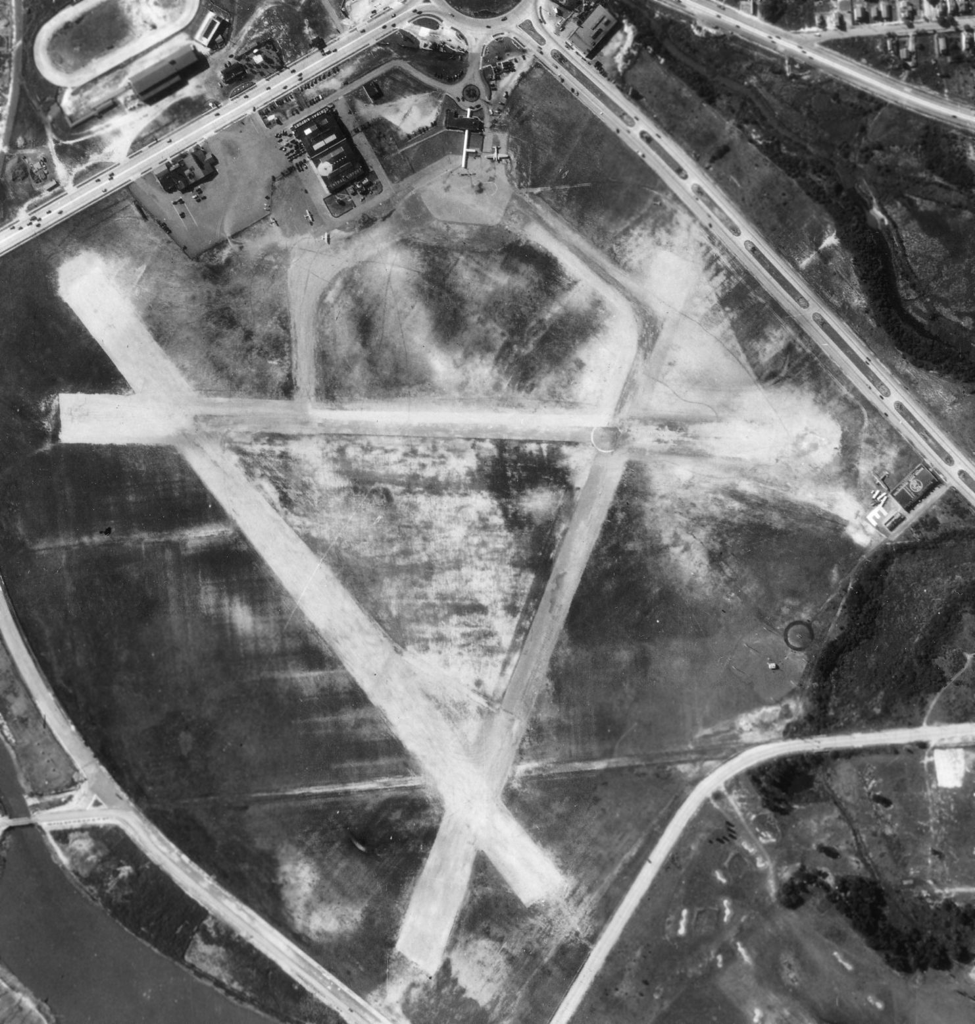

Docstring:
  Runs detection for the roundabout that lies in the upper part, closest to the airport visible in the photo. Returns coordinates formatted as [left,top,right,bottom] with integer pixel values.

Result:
[455,77,487,109]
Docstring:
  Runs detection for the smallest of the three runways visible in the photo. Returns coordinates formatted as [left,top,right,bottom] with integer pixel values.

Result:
[398,455,627,973]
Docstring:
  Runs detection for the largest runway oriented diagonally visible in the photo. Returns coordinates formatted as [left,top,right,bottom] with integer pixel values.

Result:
[58,254,561,905]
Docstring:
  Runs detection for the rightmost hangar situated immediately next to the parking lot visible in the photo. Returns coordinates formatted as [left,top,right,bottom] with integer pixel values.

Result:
[289,102,368,193]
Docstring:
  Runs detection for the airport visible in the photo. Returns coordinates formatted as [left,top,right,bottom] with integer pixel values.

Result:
[58,119,911,973]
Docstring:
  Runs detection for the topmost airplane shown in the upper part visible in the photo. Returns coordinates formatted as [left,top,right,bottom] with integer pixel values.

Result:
[484,144,509,161]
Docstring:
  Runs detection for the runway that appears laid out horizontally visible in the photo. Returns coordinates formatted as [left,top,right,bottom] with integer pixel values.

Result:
[59,395,841,467]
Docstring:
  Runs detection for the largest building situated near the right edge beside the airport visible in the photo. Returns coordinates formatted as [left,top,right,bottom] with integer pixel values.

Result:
[891,465,937,510]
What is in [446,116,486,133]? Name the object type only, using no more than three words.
building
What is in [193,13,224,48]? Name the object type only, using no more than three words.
building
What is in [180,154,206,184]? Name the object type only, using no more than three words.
house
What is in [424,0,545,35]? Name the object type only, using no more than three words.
roundabout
